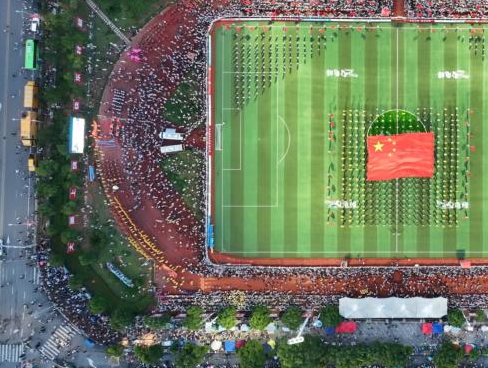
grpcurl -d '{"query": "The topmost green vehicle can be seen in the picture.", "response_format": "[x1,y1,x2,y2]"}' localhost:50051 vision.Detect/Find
[26,38,40,70]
